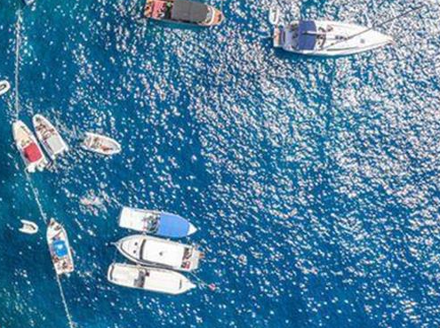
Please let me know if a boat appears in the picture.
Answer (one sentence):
Yes, the frame does contain a boat.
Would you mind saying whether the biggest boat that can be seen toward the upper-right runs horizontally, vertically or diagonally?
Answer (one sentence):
The biggest boat that can be seen toward the upper-right is oriented horizontally.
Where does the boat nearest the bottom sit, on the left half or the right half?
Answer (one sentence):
You can find the boat nearest the bottom on the left side of the picture.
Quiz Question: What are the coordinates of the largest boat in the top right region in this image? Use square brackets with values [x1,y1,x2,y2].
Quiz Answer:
[266,6,425,55]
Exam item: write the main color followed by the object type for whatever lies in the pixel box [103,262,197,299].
white boat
